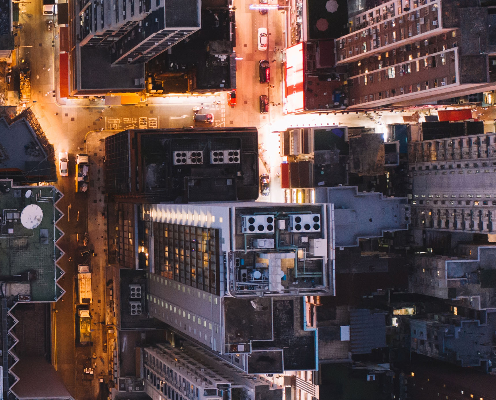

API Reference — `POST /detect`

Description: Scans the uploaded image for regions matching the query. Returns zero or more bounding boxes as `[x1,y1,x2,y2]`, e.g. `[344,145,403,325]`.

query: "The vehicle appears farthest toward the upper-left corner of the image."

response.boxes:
[42,0,56,15]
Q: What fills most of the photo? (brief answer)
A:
buildings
